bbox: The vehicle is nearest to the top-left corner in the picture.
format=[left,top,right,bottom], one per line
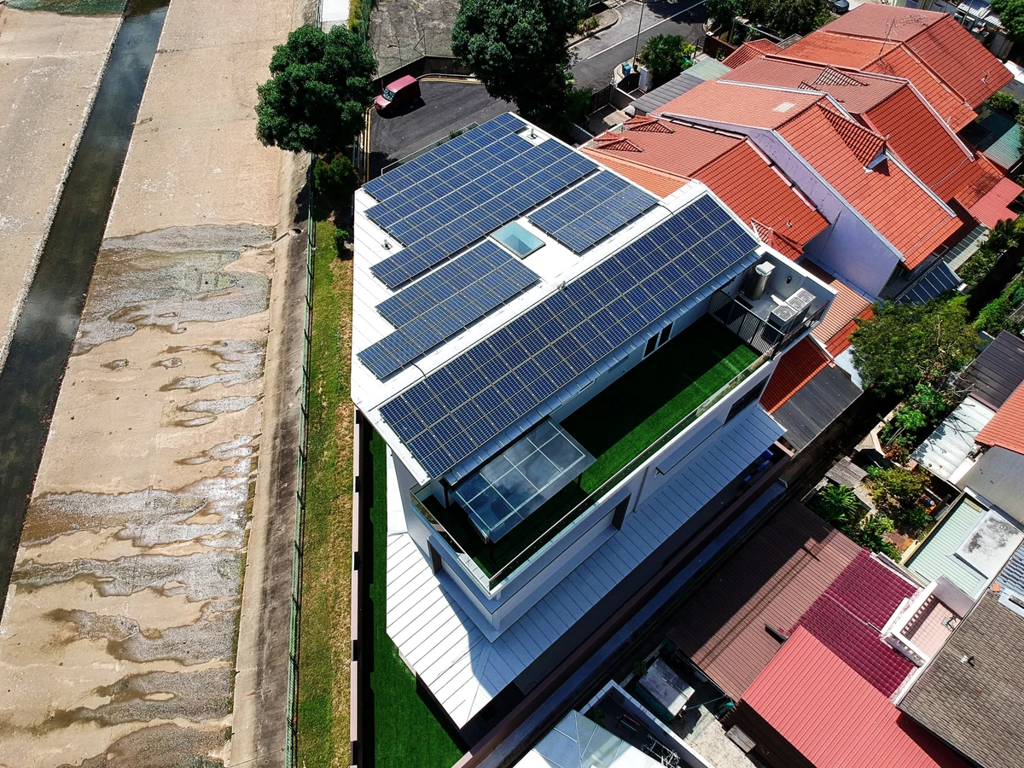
[371,75,423,121]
